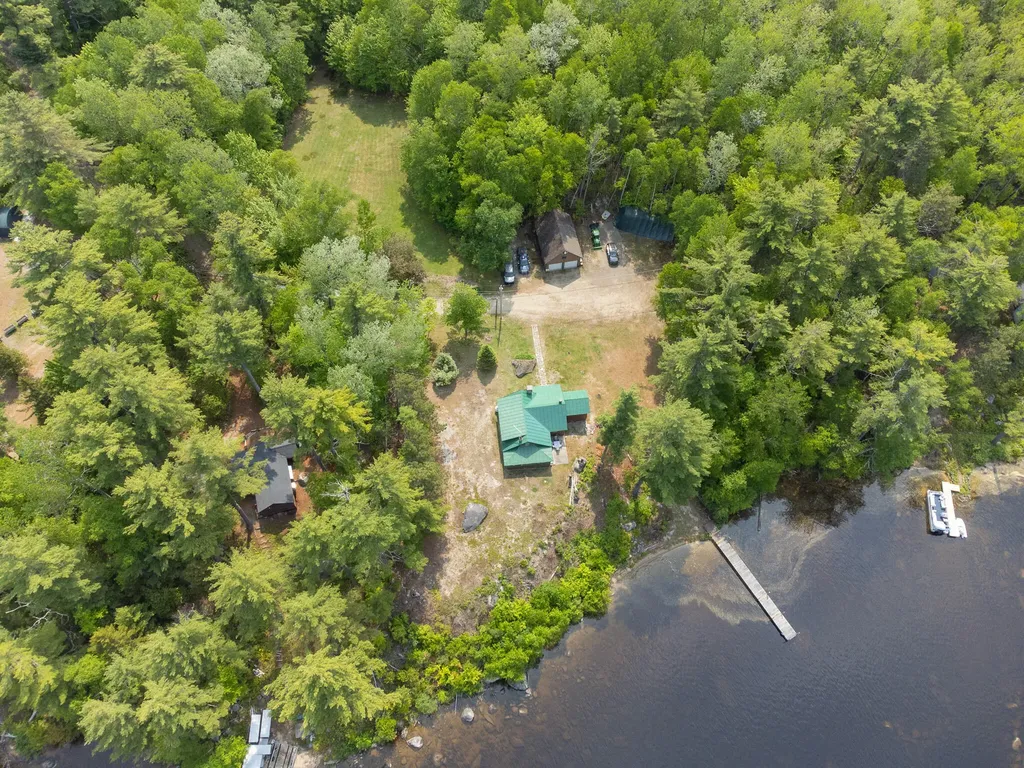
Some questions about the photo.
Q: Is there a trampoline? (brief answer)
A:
No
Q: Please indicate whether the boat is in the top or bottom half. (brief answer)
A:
bottom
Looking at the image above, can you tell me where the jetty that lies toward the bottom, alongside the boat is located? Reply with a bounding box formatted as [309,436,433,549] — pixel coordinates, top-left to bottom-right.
[942,482,960,538]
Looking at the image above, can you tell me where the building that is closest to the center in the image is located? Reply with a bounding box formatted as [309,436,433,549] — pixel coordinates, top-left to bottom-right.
[497,384,591,469]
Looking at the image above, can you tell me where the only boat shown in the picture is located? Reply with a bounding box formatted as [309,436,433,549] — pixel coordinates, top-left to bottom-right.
[926,488,949,537]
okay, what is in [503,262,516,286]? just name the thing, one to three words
vehicle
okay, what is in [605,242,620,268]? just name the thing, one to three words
vehicle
